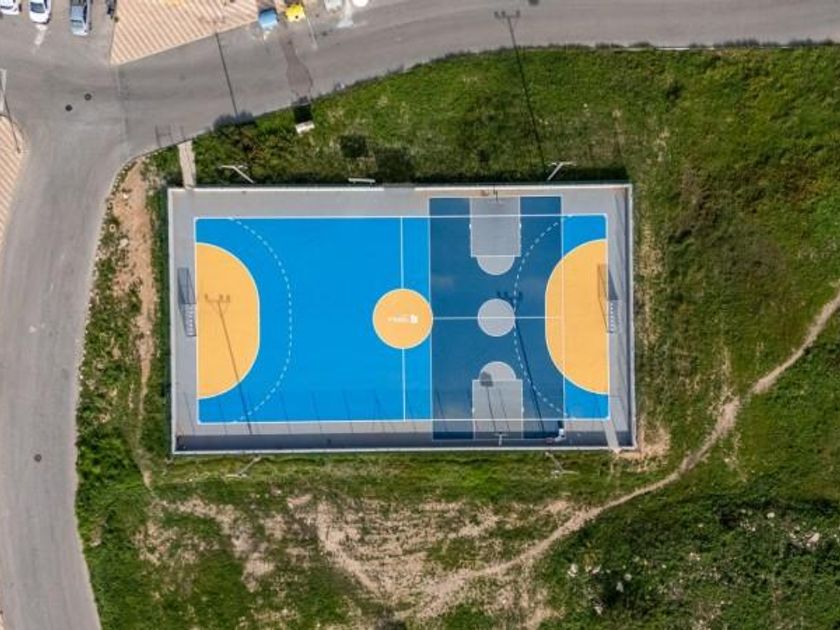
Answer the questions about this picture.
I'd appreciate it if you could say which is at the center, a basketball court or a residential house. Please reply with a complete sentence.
There is a basketball court at the center.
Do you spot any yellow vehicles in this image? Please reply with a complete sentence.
No, the frame has no yellow vehicle in it.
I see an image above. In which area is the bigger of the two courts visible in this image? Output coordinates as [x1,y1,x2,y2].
[195,215,610,424]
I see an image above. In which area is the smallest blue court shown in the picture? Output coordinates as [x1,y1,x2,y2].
[430,196,564,441]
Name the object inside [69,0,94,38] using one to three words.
truck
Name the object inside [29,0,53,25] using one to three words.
car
